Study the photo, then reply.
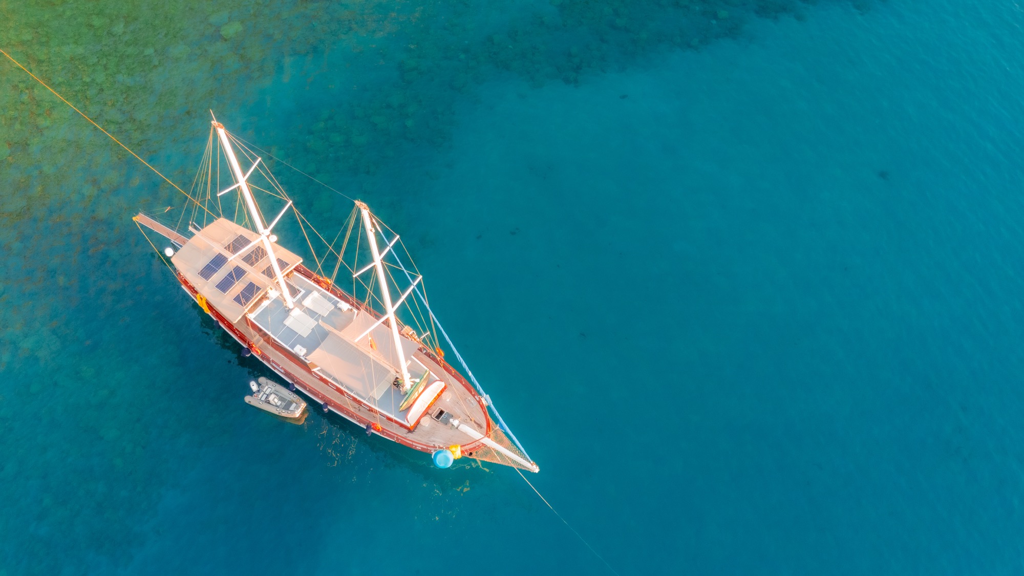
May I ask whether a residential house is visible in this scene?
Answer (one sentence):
No, the frame has no residential house in it.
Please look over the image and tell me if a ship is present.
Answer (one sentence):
Yes, there's a ship here.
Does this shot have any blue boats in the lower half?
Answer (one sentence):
No, I see no blue boat in the lower half.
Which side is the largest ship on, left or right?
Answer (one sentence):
You can find the largest ship on the left side of the picture.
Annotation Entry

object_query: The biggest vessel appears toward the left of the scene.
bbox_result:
[136,107,538,471]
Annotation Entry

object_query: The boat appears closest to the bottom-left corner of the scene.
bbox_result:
[245,379,305,419]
